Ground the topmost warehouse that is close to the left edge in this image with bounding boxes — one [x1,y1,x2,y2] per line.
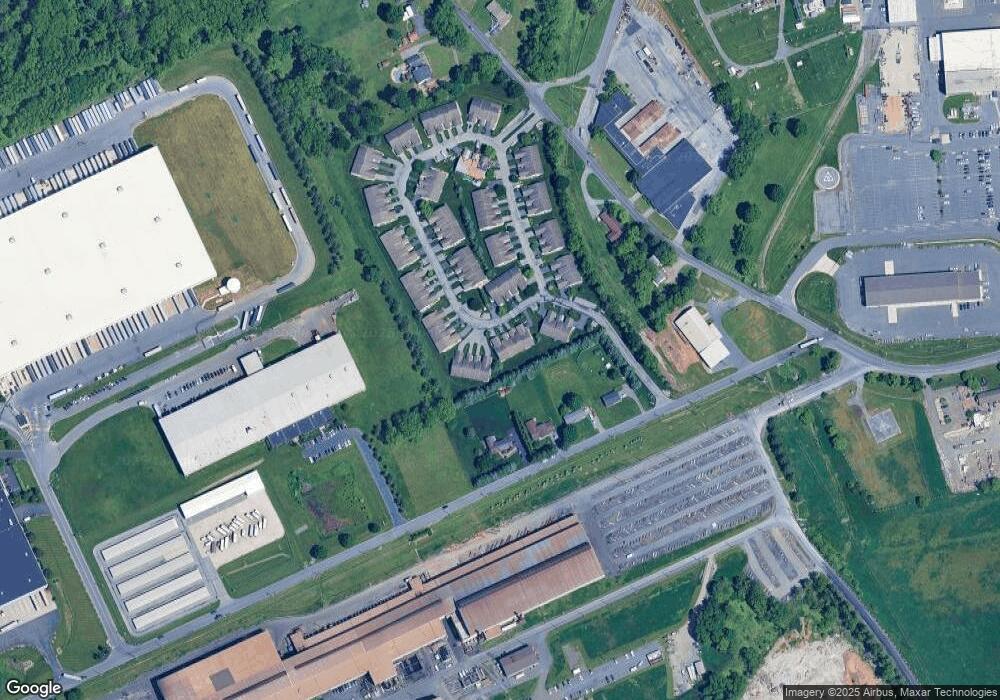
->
[0,147,220,375]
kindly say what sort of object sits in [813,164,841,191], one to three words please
helipad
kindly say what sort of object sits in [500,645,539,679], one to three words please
building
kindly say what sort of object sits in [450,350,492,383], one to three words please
house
